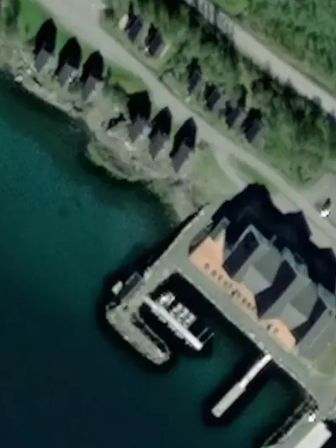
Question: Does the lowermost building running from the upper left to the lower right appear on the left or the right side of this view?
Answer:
right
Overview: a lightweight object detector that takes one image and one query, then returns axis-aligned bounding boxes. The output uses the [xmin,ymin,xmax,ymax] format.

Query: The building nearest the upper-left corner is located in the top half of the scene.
[31,51,56,77]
